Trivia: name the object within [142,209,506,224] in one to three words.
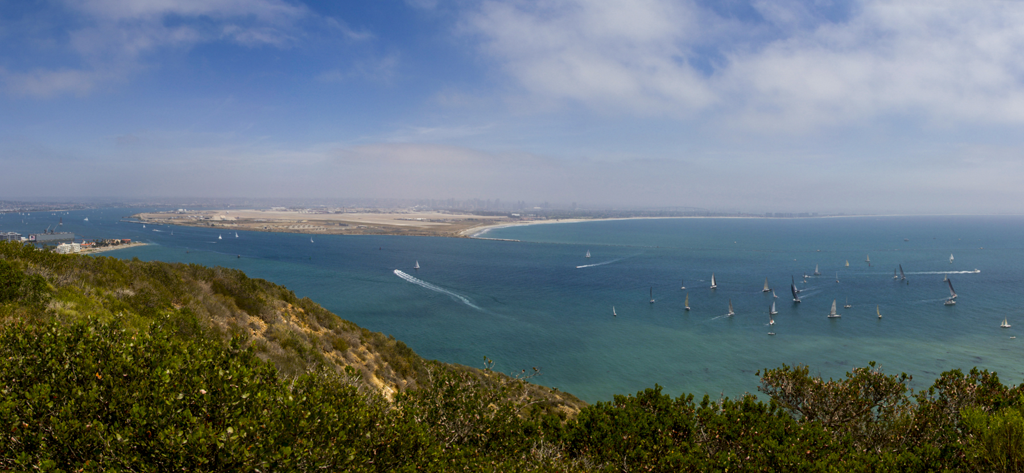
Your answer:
runway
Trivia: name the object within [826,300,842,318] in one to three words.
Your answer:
boat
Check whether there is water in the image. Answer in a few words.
Yes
